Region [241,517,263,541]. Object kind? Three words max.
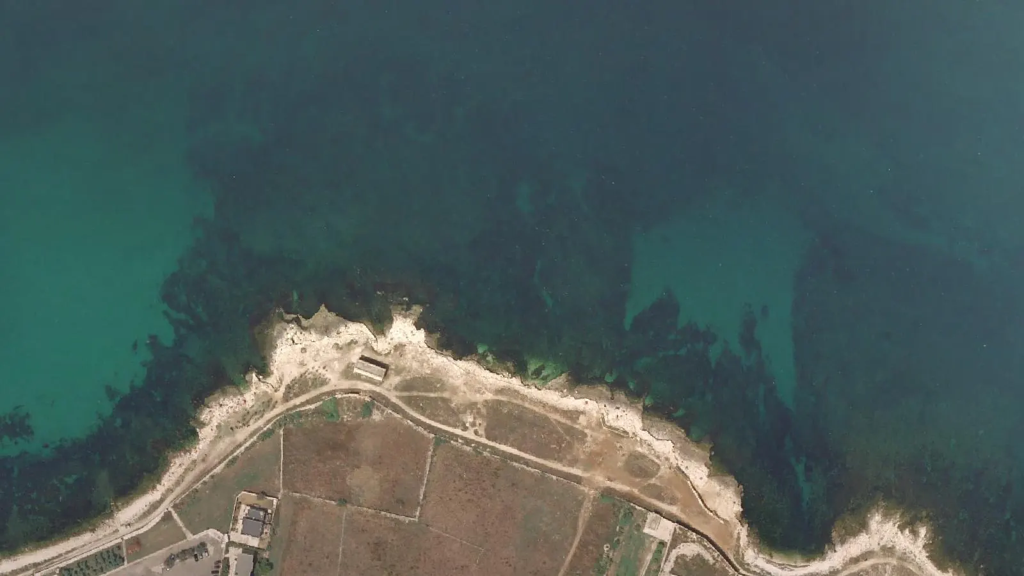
house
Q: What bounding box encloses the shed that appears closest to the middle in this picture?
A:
[354,360,386,382]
